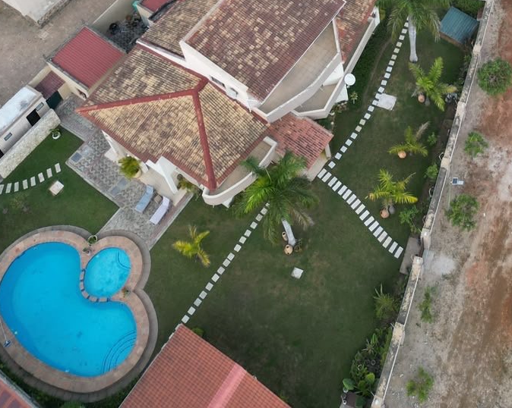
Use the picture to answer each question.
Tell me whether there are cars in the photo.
No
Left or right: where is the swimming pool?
left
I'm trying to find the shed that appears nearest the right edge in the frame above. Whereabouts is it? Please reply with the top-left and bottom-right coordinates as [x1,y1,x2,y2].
[440,6,480,57]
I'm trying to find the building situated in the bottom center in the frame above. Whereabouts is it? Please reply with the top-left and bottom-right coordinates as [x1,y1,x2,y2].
[122,325,292,408]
